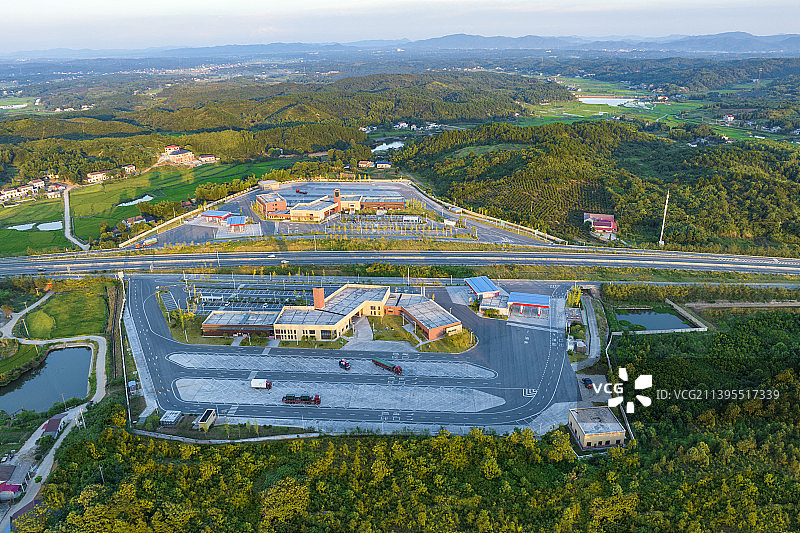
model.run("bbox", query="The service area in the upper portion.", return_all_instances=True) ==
[134,182,551,243]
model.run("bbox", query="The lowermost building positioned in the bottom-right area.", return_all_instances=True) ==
[565,407,628,449]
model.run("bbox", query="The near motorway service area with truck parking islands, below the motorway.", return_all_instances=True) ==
[123,281,612,434]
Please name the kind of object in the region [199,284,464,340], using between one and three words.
building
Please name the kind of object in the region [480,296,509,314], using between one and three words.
building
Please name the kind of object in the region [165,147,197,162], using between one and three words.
house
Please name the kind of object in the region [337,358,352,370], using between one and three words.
vehicle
